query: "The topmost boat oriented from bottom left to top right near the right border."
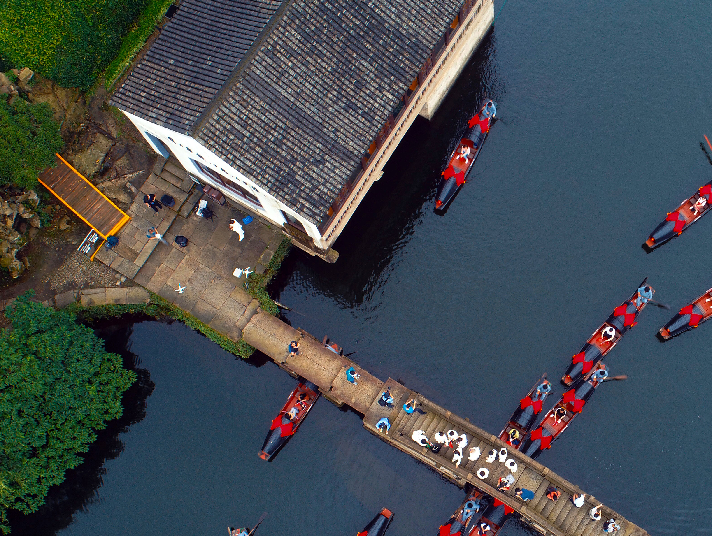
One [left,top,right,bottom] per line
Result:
[641,180,712,252]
